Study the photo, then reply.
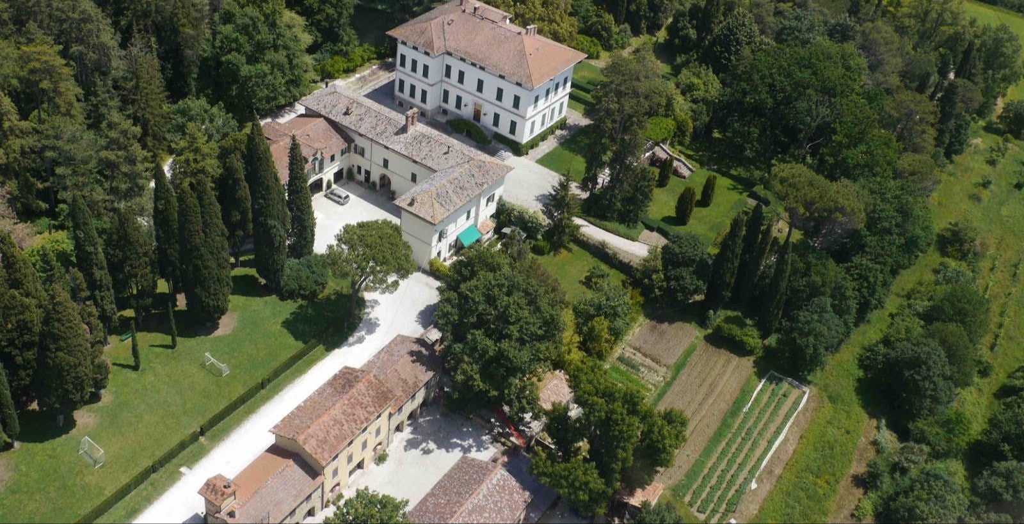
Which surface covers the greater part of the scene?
trees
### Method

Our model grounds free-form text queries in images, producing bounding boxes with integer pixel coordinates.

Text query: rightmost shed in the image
[623,478,665,514]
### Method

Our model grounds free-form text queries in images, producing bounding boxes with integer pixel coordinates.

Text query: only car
[323,189,353,205]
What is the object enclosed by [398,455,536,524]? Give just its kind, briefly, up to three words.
barn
